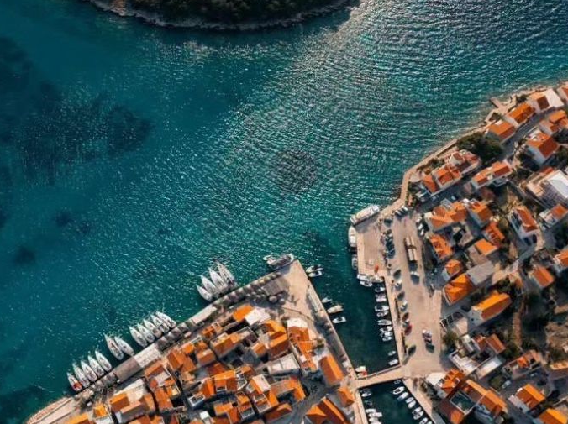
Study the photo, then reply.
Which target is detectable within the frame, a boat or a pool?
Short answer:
boat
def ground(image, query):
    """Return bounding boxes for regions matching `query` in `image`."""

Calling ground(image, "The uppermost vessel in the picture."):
[348,206,379,225]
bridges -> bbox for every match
[356,364,403,390]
